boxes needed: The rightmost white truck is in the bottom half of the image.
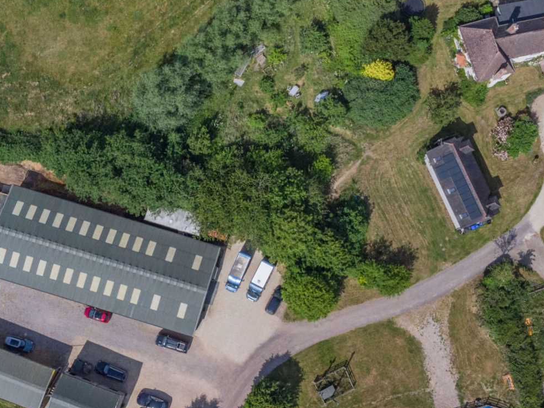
[244,260,276,303]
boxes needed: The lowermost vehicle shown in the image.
[138,392,171,408]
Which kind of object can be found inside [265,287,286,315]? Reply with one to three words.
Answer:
car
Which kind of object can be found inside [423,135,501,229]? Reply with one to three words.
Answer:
building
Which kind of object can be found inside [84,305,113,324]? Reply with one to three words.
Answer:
car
